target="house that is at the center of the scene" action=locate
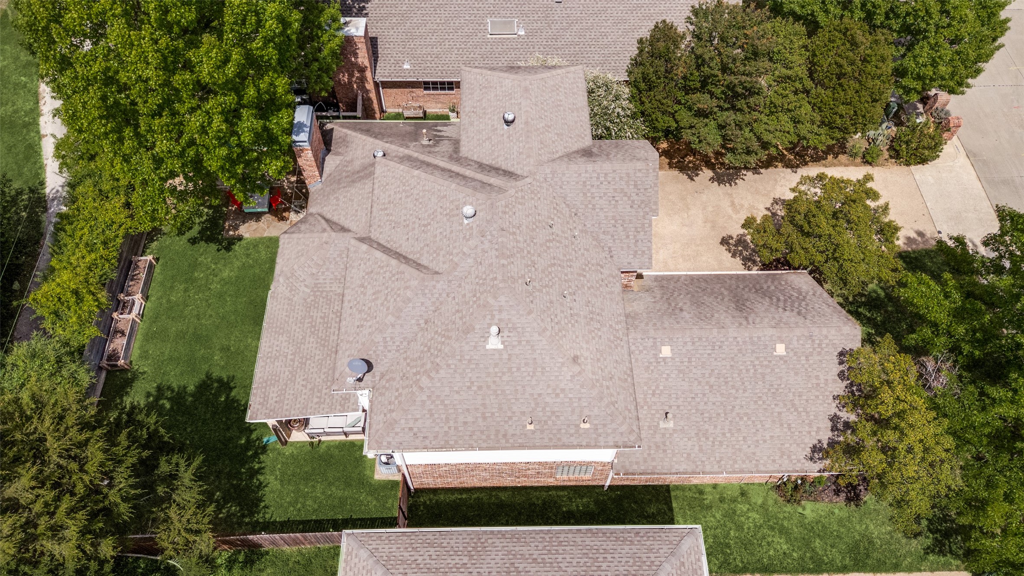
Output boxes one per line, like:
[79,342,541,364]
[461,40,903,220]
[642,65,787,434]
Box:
[242,66,859,501]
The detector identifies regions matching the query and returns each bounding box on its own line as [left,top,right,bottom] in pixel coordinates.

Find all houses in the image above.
[332,520,713,576]
[242,66,859,501]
